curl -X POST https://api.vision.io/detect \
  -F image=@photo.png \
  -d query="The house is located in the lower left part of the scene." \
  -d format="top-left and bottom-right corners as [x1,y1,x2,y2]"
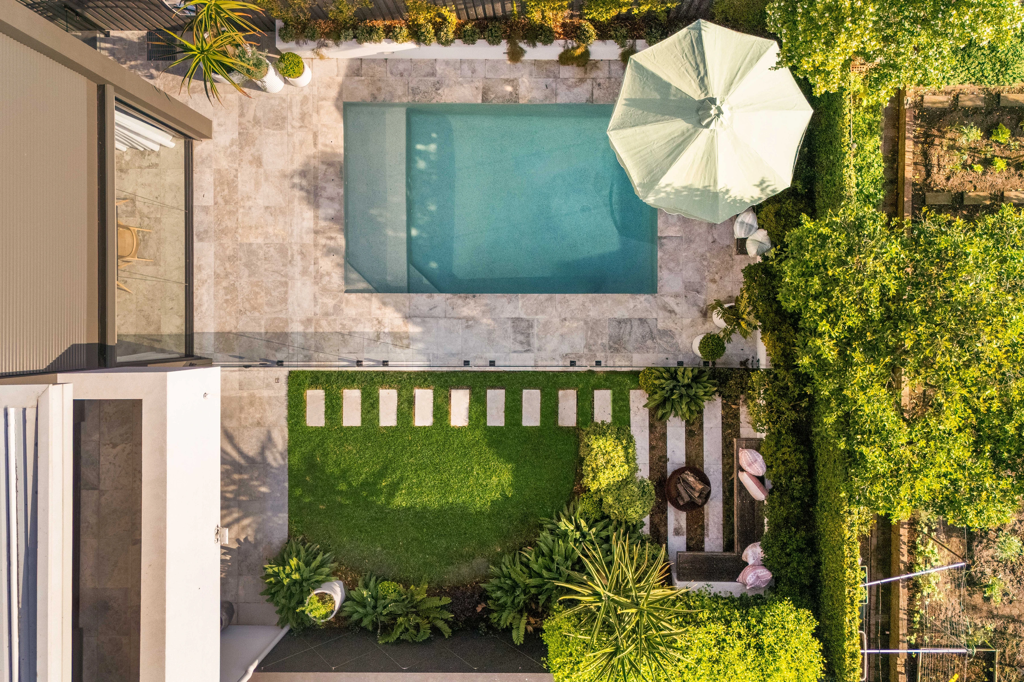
[0,367,221,682]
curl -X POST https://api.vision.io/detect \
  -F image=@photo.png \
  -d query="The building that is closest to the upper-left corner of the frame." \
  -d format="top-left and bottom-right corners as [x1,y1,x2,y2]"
[0,0,212,382]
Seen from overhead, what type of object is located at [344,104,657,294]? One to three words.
swimming pool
